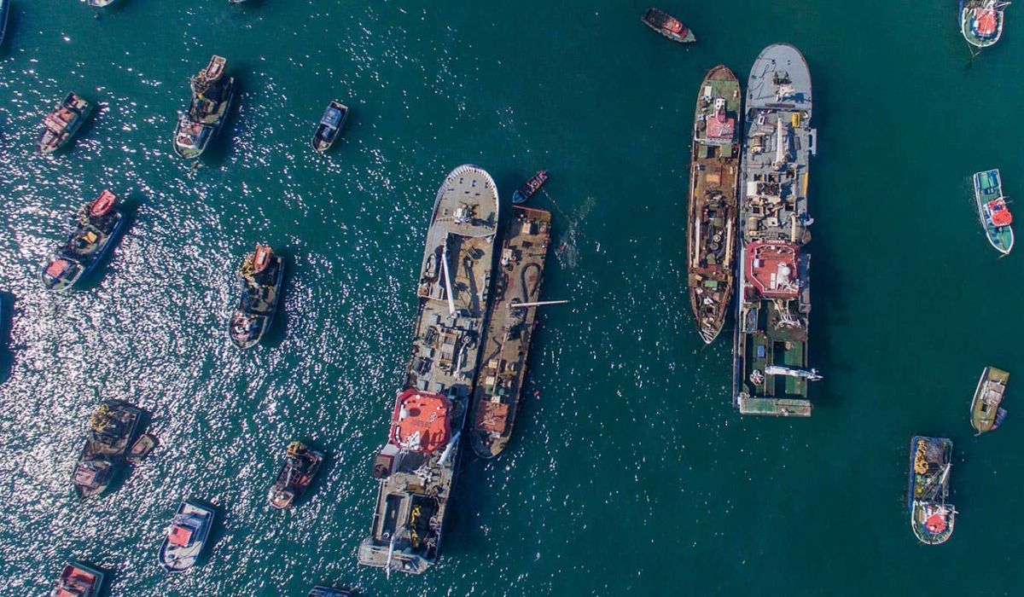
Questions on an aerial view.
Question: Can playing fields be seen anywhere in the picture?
No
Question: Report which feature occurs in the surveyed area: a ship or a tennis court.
ship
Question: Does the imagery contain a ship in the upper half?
Yes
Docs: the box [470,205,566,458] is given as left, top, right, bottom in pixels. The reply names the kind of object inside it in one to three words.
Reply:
ship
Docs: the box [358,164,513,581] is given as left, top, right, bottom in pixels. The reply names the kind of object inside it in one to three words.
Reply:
ship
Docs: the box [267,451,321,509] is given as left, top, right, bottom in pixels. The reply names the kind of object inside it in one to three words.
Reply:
boat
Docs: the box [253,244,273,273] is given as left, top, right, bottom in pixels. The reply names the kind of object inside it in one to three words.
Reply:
boat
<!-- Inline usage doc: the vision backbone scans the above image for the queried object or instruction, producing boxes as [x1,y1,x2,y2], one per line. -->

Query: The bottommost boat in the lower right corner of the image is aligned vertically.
[907,437,959,544]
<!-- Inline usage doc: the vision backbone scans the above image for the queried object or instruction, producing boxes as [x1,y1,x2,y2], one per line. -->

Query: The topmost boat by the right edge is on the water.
[960,0,1011,57]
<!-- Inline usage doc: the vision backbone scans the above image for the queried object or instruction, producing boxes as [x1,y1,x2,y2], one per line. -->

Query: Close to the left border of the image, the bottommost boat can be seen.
[47,561,104,597]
